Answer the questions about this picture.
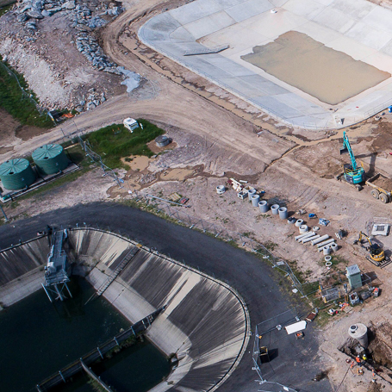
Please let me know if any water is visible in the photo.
Yes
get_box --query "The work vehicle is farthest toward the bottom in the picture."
[360,229,386,270]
